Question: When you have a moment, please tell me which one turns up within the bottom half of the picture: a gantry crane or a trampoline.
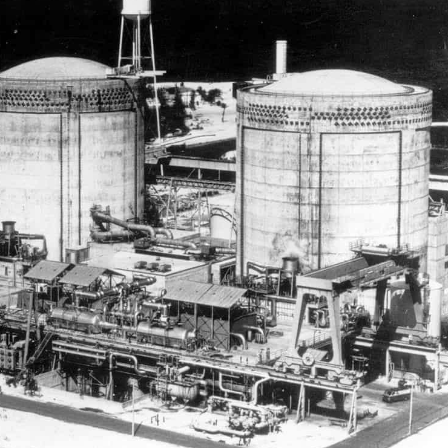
gantry crane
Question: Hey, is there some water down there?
Yes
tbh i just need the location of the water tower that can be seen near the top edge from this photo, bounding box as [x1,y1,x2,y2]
[117,0,160,143]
